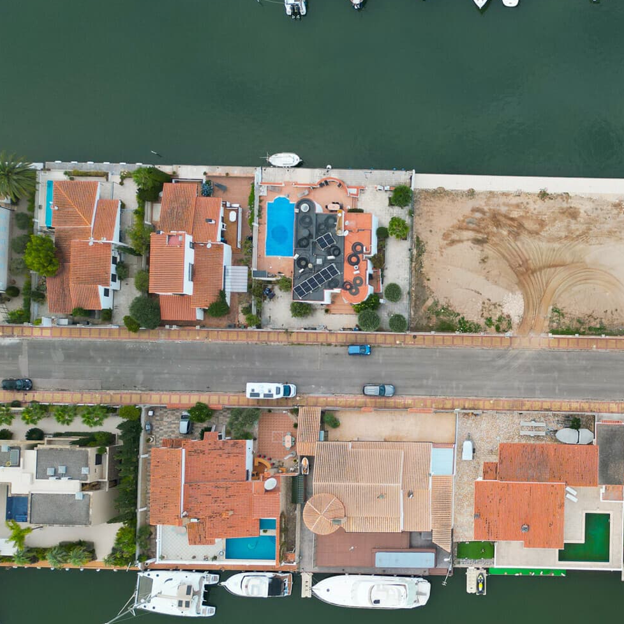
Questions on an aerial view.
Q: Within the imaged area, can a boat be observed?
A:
Yes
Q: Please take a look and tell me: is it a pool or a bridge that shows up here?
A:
pool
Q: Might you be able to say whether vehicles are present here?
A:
Yes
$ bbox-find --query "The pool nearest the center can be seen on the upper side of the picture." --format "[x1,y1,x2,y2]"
[265,195,295,257]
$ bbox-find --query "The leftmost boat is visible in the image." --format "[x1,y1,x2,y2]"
[110,570,222,624]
